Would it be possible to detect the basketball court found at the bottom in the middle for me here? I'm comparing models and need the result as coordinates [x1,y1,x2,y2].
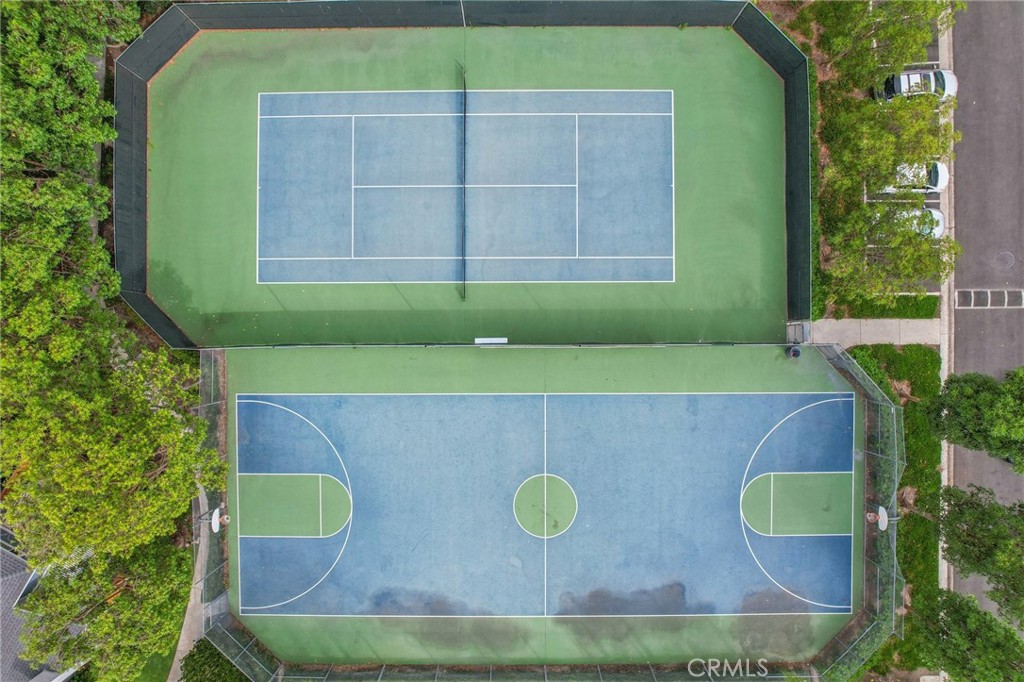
[228,348,864,665]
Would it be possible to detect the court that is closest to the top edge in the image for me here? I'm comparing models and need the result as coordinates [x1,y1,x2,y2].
[147,26,787,347]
